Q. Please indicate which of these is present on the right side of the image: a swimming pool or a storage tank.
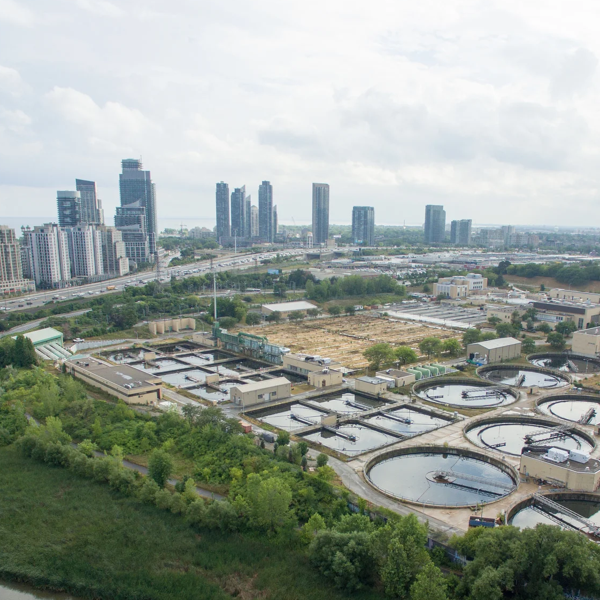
storage tank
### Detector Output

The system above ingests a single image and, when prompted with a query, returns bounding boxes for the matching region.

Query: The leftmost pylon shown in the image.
[147,251,167,298]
